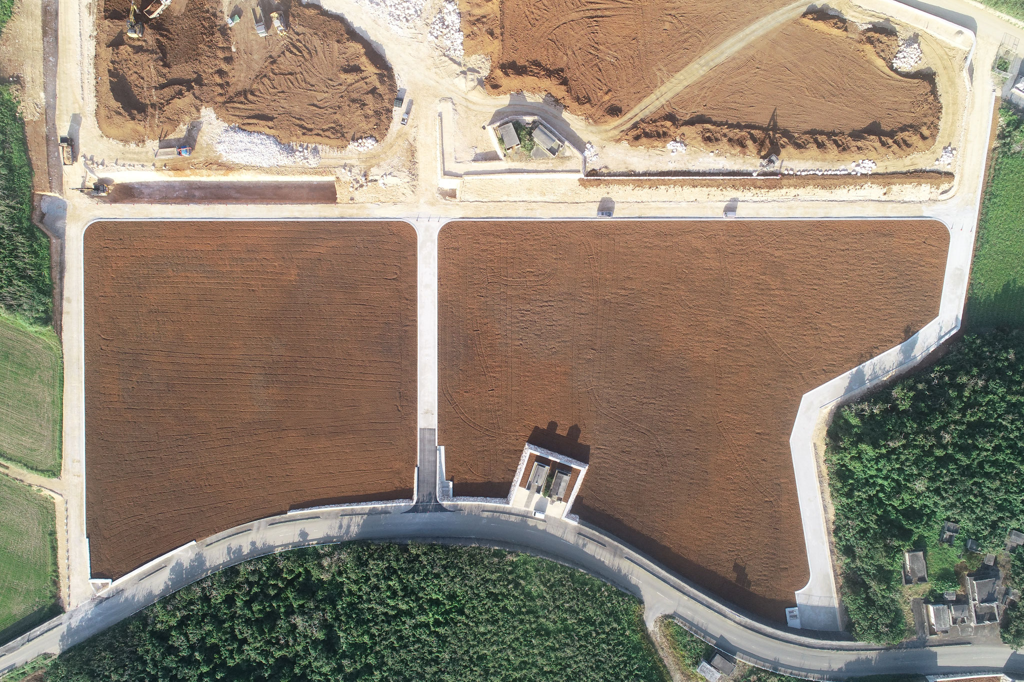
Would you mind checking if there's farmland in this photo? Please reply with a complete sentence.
Yes, there is farmland in the image.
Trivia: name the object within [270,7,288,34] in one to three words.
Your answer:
work vehicle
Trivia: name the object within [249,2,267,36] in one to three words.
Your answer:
vehicle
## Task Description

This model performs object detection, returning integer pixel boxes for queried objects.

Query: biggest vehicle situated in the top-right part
[760,150,784,175]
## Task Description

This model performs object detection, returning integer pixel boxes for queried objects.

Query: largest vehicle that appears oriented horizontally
[148,144,191,156]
